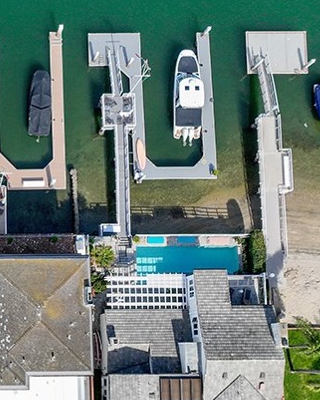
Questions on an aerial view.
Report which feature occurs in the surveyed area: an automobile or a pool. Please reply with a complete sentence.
The one in the frame is a pool.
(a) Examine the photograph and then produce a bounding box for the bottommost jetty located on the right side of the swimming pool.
[250,112,299,293]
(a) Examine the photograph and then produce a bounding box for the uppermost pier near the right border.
[245,31,308,75]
